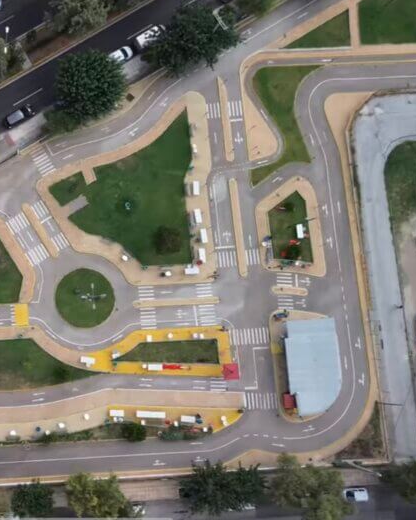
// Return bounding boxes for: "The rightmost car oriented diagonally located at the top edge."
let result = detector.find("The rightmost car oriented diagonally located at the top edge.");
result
[131,23,168,53]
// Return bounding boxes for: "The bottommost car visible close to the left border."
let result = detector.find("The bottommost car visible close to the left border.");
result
[2,104,34,129]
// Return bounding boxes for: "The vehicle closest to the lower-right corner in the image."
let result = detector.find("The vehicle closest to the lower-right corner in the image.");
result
[342,487,370,501]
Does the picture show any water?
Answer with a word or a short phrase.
No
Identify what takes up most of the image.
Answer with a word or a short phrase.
paved ground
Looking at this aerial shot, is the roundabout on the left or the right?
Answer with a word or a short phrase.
left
